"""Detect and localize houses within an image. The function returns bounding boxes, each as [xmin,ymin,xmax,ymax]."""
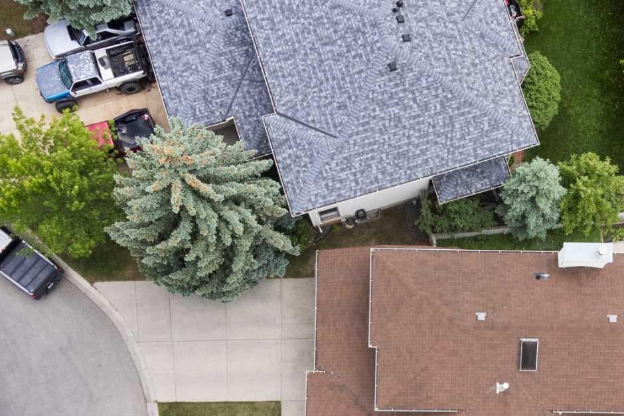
[134,0,540,243]
[303,242,624,416]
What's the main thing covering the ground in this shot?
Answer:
buildings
